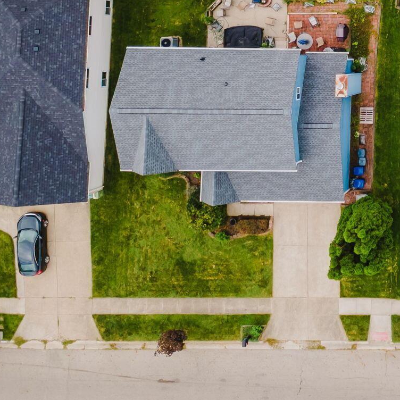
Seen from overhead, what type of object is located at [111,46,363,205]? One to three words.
house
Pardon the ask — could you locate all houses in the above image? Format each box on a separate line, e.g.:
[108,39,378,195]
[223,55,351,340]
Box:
[0,0,113,205]
[111,46,363,205]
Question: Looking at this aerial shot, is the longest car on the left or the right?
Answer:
left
